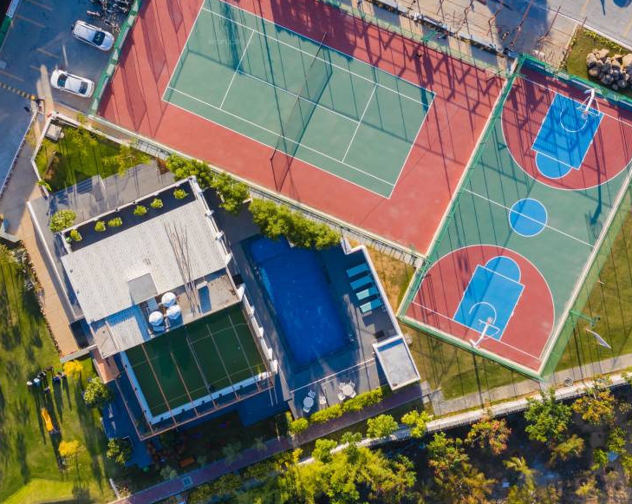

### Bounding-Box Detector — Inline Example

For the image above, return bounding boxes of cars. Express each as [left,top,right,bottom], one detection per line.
[49,69,98,99]
[69,19,118,53]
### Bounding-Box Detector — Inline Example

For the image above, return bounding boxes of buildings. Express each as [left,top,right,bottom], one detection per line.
[60,176,279,436]
[370,331,421,390]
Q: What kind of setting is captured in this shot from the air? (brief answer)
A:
sports ground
